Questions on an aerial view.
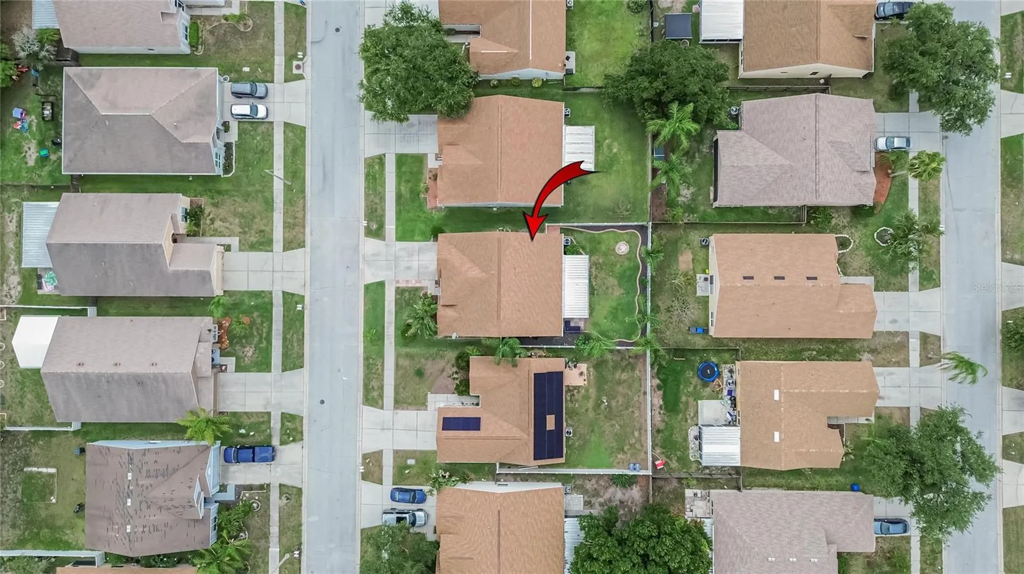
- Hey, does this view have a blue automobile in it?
Yes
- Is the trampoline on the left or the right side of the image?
right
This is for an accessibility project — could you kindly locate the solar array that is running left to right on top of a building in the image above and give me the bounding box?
[442,417,480,430]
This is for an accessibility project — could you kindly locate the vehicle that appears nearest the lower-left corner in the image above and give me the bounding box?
[226,446,276,465]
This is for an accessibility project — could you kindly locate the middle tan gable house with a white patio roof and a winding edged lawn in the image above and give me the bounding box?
[436,230,563,339]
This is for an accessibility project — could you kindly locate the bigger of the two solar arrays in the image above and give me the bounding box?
[534,372,564,460]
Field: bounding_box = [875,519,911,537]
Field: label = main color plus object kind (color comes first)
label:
blue car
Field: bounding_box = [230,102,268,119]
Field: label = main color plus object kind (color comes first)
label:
white car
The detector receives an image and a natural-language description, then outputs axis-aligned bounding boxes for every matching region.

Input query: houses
[85,441,221,559]
[739,0,876,78]
[54,0,233,52]
[436,356,566,466]
[40,317,221,423]
[707,233,878,339]
[733,361,881,473]
[63,67,228,175]
[435,480,564,574]
[55,561,207,574]
[436,95,564,207]
[436,230,563,339]
[42,192,225,296]
[709,94,880,208]
[438,0,566,80]
[709,489,875,574]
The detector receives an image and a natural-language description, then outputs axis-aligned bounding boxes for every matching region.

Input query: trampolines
[697,361,719,382]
